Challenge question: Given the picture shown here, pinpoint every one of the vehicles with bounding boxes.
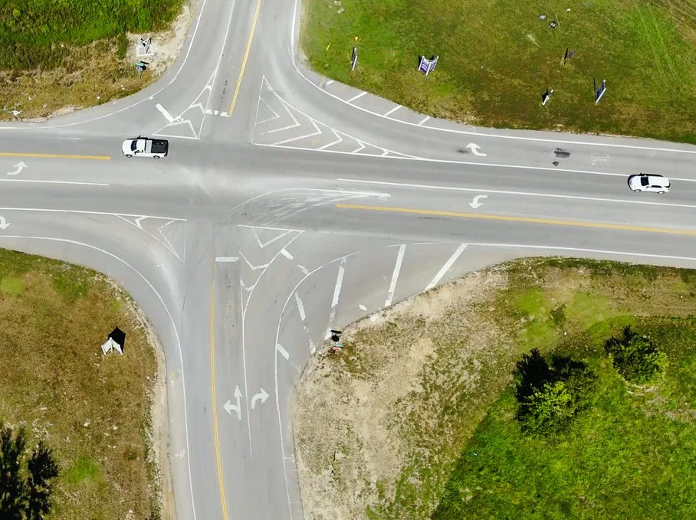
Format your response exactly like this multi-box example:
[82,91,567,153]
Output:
[629,173,674,195]
[120,135,173,159]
